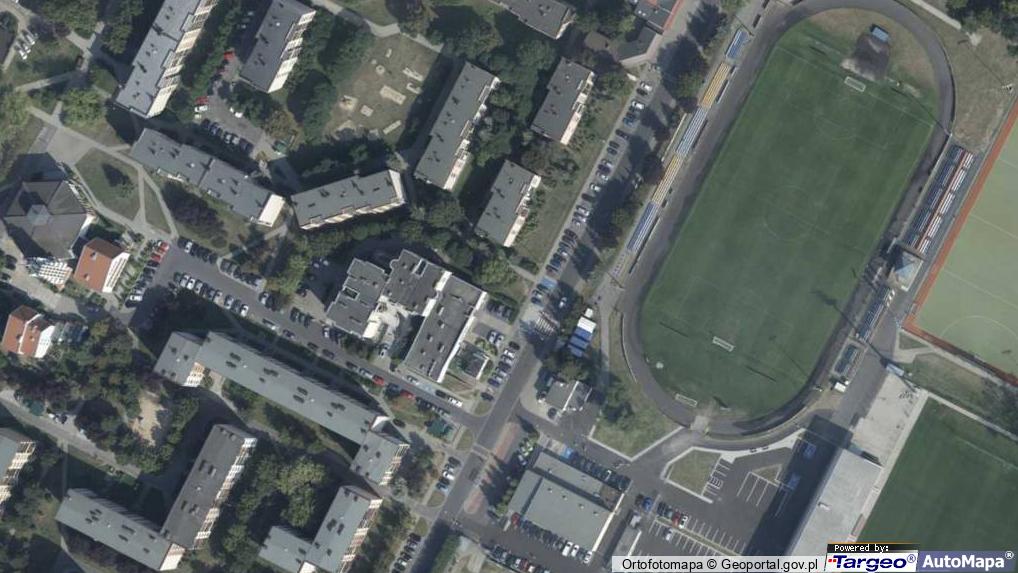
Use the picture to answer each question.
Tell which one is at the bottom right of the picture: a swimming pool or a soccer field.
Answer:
soccer field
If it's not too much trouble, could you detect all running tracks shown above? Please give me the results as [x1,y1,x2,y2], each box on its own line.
[621,0,955,435]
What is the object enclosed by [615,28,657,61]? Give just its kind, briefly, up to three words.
shed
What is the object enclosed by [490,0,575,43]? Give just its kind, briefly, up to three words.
building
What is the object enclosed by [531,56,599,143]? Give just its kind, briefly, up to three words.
building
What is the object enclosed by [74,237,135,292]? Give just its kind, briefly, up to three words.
house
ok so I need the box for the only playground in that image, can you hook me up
[130,392,166,441]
